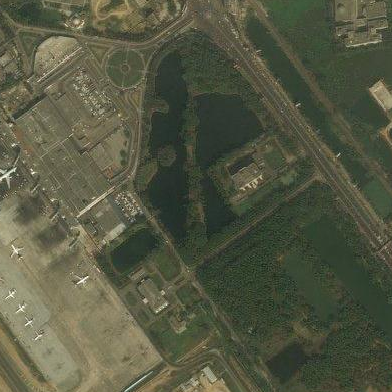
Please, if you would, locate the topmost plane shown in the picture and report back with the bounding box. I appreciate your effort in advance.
[0,167,17,188]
